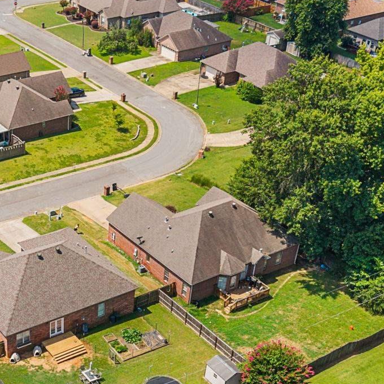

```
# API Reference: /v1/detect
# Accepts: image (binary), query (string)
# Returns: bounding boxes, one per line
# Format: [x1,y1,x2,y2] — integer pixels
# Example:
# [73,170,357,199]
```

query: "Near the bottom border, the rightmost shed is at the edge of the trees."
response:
[203,351,246,384]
